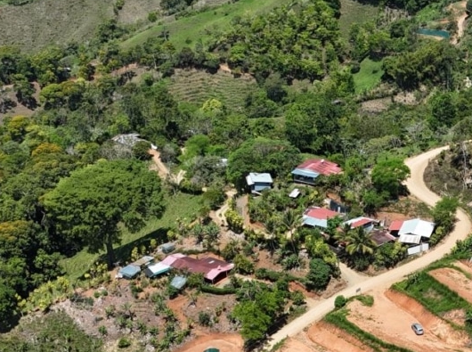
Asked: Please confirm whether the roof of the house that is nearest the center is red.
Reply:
No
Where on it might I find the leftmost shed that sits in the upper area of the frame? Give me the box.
[112,133,152,148]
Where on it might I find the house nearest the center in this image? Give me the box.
[246,173,274,195]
